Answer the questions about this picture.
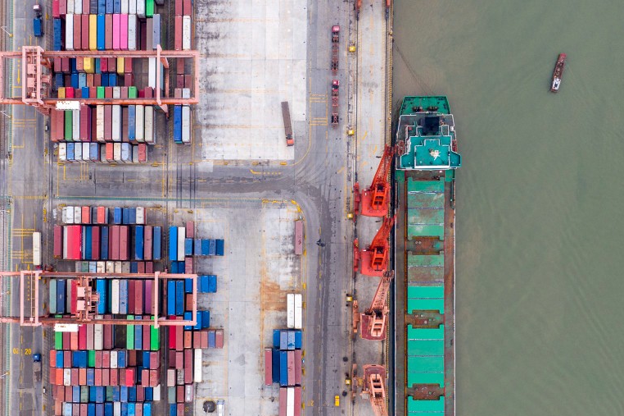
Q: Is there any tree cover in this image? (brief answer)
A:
No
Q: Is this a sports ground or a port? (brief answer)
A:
port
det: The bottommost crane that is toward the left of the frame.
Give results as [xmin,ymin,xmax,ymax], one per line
[0,260,198,334]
